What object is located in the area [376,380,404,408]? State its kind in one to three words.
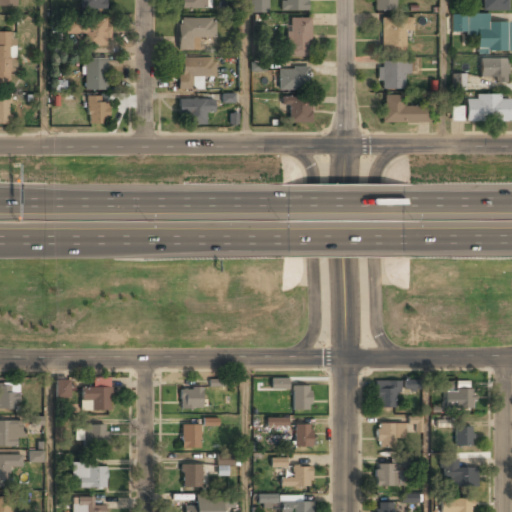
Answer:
house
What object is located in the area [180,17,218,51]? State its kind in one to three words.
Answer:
house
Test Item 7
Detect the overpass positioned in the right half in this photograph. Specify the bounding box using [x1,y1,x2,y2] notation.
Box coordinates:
[280,183,412,260]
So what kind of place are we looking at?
residential area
